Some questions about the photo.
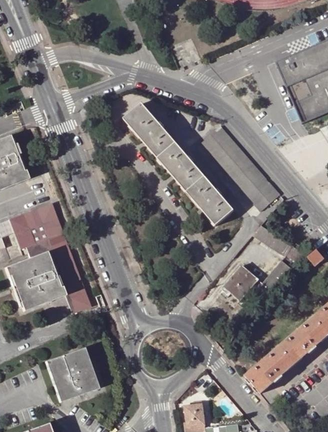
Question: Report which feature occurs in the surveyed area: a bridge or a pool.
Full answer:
The image shows a pool.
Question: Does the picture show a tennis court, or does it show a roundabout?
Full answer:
Visible in the photo is a roundabout.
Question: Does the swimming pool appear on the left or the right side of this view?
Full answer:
The swimming pool appears in the right half of the scene.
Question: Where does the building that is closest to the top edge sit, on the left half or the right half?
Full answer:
The building that is closest to the top edge sits on the right side.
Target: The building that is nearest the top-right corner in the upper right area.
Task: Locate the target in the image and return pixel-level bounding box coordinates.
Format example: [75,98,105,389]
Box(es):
[276,43,328,124]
